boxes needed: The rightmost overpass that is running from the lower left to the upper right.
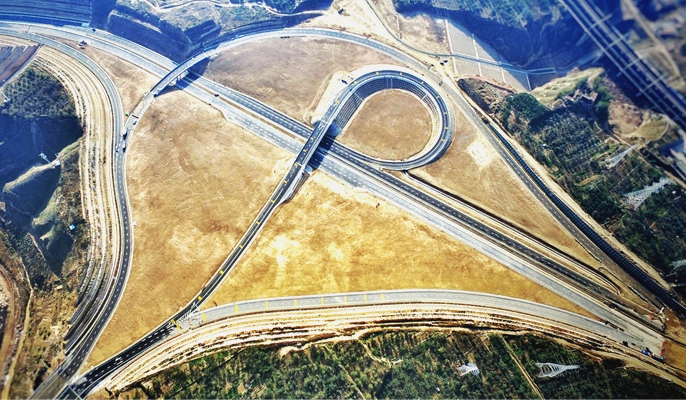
[291,121,328,170]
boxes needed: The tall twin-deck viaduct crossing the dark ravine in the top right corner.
[555,0,686,144]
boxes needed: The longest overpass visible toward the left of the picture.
[147,42,230,96]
